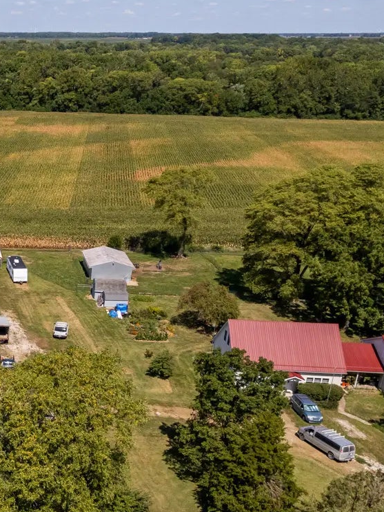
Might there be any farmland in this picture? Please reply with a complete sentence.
Yes, farmland can be seen from above here.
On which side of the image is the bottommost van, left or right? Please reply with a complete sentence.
The bottommost van sits on the right side.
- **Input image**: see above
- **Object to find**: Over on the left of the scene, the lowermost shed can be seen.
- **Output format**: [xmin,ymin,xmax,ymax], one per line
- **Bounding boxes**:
[88,278,132,307]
